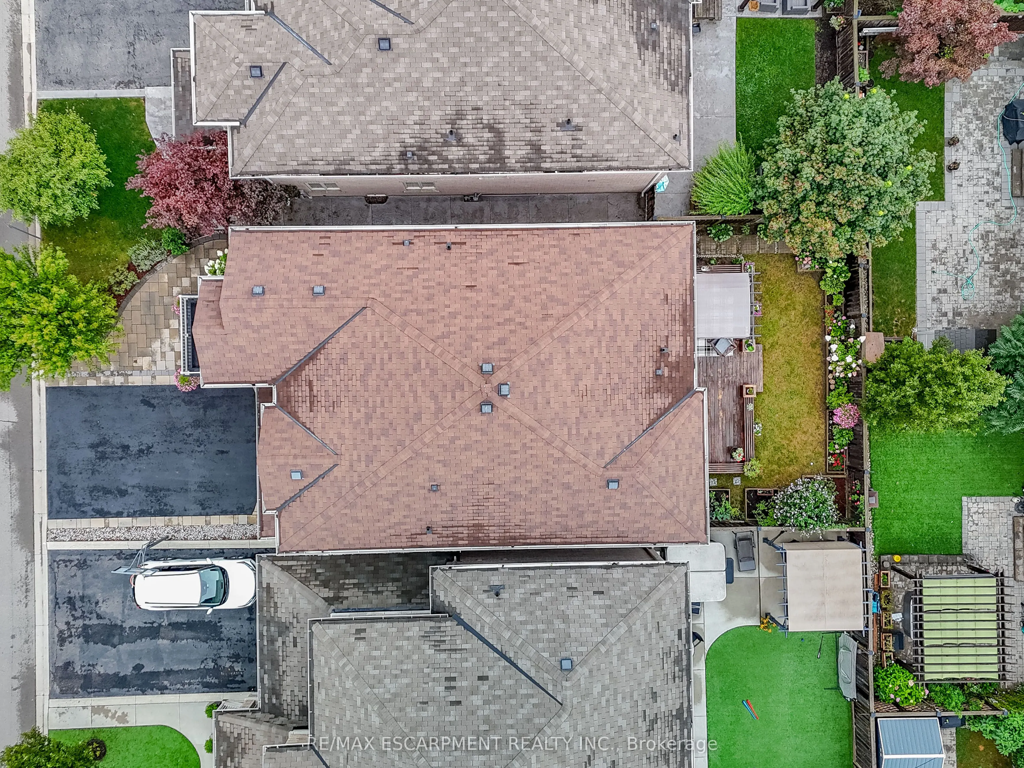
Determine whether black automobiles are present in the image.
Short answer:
No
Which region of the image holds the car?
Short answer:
bottom left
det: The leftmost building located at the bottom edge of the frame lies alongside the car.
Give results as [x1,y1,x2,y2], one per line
[213,548,692,768]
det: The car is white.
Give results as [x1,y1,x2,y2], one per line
[128,554,258,618]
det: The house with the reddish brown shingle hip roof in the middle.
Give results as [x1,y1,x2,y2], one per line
[178,220,709,553]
